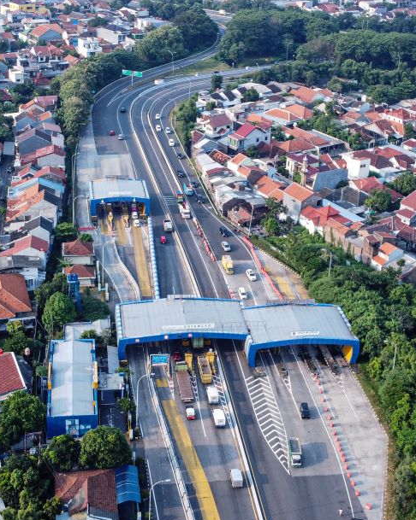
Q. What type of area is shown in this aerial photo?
residential area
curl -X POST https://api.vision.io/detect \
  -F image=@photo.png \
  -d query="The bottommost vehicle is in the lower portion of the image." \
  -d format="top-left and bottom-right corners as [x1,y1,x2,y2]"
[228,464,246,493]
